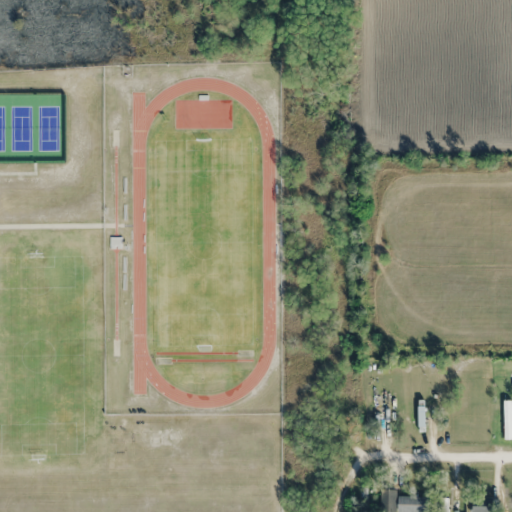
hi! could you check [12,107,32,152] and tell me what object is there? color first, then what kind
blue tennis court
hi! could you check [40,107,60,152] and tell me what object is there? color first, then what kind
blue tennis court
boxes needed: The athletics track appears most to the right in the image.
[134,78,276,408]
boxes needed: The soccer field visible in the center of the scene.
[146,90,263,395]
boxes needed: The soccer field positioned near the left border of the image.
[0,254,86,457]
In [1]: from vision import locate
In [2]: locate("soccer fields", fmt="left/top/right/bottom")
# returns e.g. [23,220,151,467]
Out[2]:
[146,90,263,395]
[0,254,86,457]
